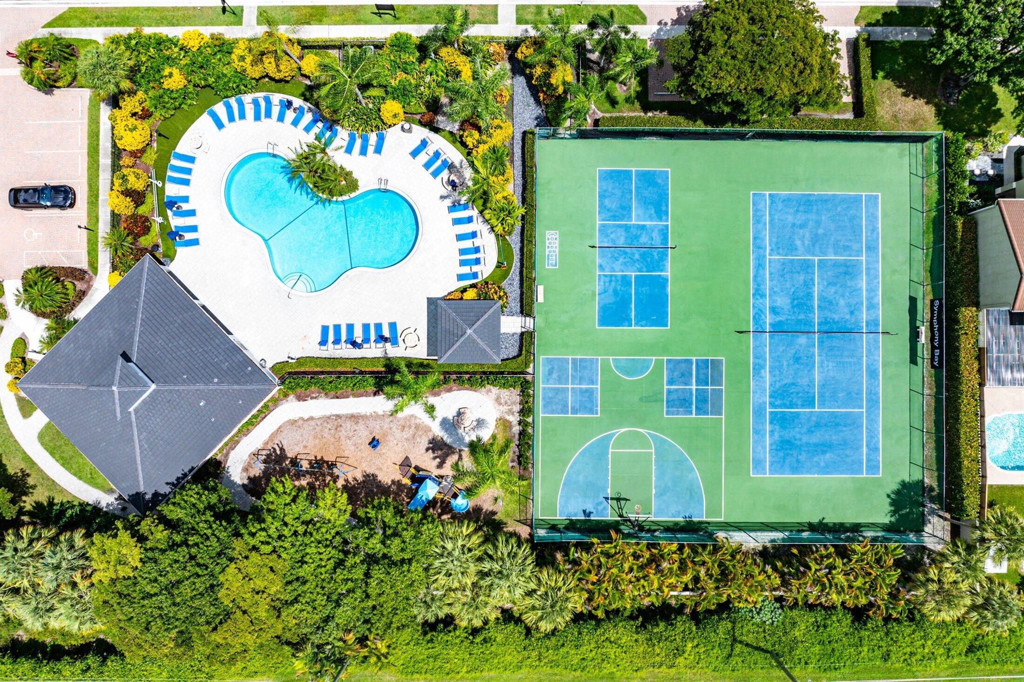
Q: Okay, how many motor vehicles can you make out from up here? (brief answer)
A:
1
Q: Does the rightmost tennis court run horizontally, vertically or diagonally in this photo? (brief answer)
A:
vertically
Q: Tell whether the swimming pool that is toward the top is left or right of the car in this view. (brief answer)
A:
right of it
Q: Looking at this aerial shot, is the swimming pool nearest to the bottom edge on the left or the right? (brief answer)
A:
right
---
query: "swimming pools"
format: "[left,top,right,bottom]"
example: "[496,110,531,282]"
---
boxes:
[220,138,423,298]
[988,410,1024,473]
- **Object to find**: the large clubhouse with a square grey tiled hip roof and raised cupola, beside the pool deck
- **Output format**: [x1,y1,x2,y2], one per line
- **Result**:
[16,253,283,514]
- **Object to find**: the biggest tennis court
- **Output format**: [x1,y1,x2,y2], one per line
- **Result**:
[751,192,882,476]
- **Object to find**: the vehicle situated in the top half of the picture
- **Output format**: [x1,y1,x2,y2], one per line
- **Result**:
[10,183,72,211]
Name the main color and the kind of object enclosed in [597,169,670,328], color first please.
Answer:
blue sports court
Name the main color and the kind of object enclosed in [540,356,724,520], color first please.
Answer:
blue basketball court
